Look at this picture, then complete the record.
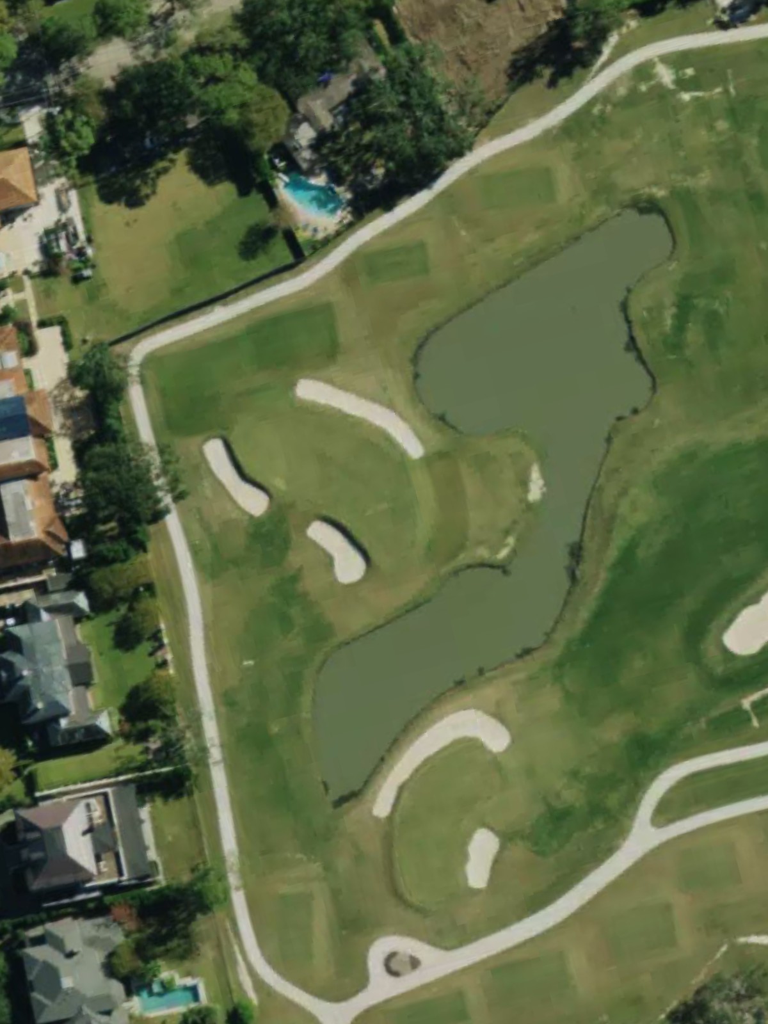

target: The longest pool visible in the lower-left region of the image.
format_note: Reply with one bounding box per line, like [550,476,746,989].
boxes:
[138,982,201,1015]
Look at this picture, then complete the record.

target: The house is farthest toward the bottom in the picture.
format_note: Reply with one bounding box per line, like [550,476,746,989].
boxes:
[23,913,132,1024]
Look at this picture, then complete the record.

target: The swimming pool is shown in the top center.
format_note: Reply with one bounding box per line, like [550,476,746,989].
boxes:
[284,172,344,218]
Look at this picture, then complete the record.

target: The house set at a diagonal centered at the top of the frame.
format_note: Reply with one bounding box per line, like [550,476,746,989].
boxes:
[286,37,384,173]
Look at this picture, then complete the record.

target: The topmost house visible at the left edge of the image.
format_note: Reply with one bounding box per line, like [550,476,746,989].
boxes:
[0,147,38,209]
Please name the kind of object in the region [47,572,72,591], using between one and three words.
shed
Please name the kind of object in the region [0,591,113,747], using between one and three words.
house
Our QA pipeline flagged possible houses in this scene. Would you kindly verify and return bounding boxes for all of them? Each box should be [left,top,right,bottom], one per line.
[0,147,38,209]
[23,913,132,1024]
[286,37,384,173]
[0,326,68,571]
[14,783,150,890]
[0,591,113,747]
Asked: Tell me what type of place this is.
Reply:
golf course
